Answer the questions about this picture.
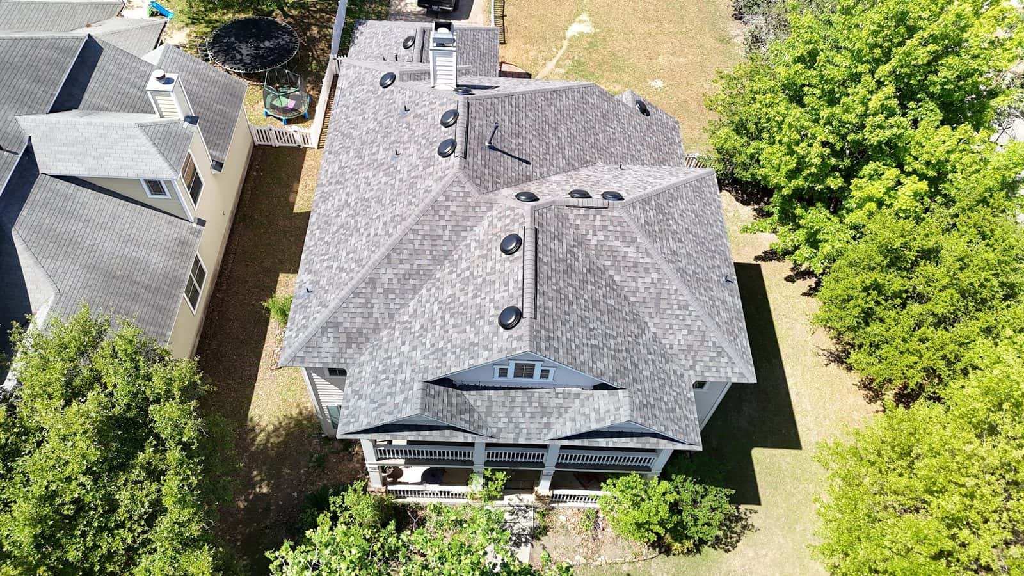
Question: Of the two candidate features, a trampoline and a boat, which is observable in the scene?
trampoline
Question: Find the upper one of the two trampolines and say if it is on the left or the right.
left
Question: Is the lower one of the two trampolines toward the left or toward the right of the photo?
left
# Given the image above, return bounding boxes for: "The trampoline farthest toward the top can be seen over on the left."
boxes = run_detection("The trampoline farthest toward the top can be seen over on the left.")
[203,15,301,87]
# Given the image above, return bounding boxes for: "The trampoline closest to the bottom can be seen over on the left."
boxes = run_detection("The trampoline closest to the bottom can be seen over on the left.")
[264,68,310,123]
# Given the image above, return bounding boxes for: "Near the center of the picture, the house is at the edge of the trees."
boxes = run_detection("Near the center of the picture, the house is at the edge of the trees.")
[278,21,757,514]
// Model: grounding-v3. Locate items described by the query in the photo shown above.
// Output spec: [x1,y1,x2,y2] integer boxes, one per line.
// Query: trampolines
[203,15,301,87]
[264,68,310,123]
